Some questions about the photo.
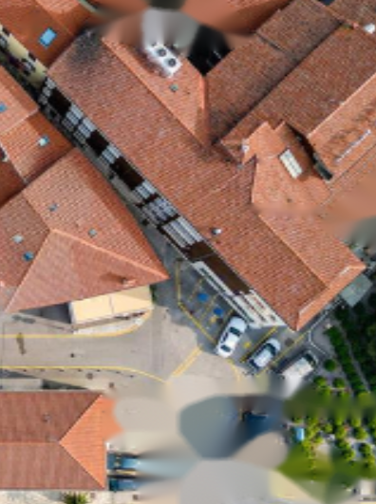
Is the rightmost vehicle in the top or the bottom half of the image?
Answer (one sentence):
You can find the rightmost vehicle in the bottom half.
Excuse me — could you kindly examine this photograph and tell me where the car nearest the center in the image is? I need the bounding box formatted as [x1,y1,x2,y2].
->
[216,317,248,356]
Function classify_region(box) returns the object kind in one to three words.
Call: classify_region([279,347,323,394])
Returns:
vehicle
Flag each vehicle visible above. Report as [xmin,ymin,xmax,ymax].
[248,334,283,372]
[216,317,248,356]
[108,455,149,476]
[108,474,149,495]
[279,347,323,394]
